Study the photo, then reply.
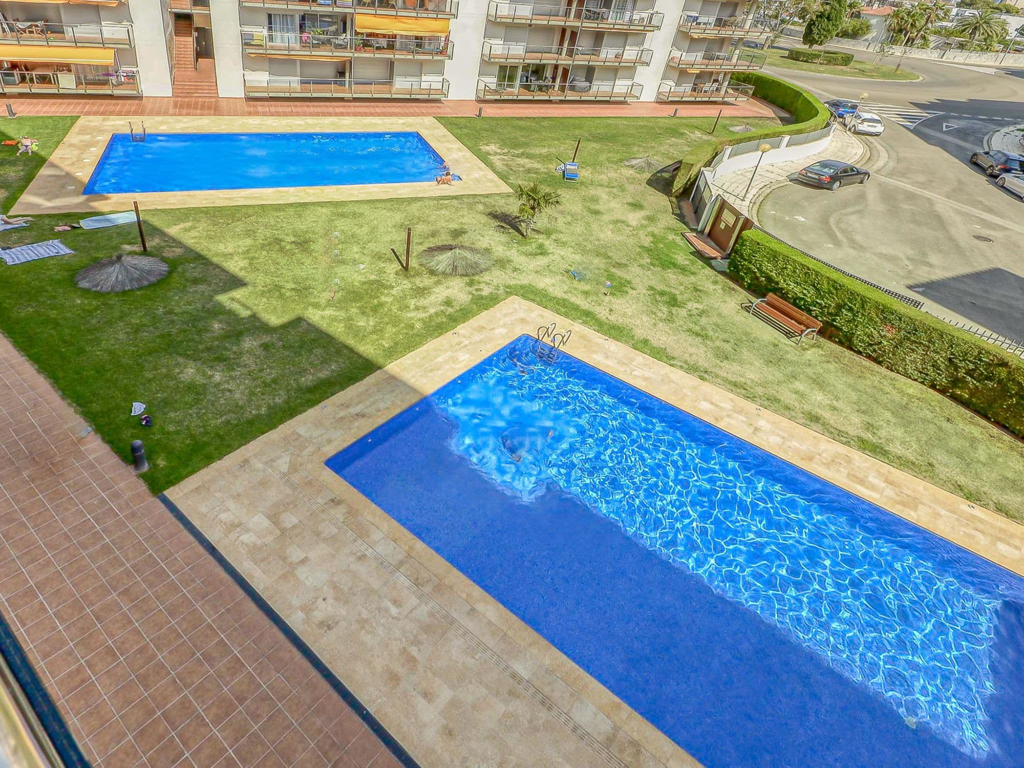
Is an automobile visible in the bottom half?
No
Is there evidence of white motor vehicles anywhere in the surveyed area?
Yes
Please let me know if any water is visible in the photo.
Yes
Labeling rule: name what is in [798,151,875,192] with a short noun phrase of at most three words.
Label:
car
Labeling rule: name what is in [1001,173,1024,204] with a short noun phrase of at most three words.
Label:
car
